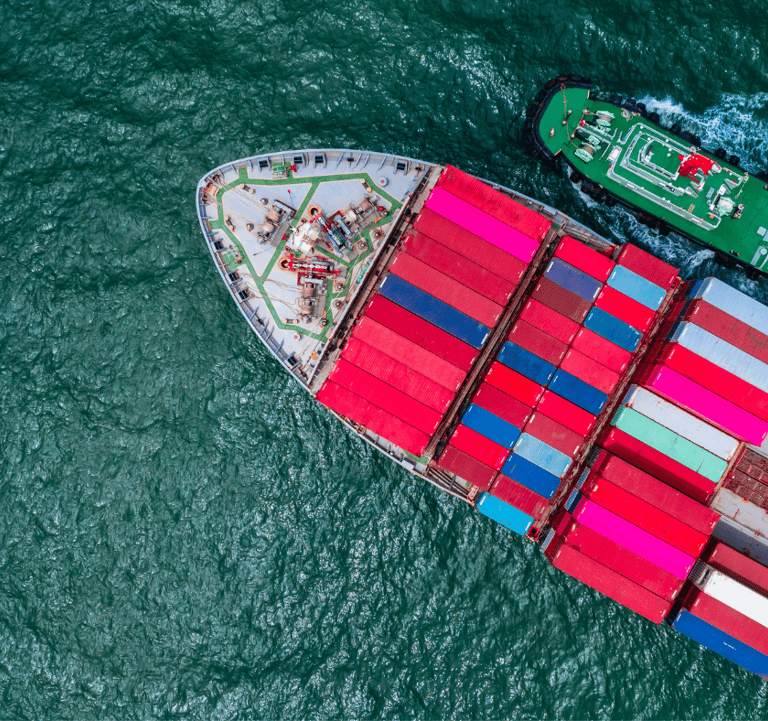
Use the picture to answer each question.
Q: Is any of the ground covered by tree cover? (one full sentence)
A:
No, there's no tree cover in this view.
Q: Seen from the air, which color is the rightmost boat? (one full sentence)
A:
The color of the rightmost boat is green.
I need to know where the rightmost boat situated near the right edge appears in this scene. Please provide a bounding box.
[521,75,768,281]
